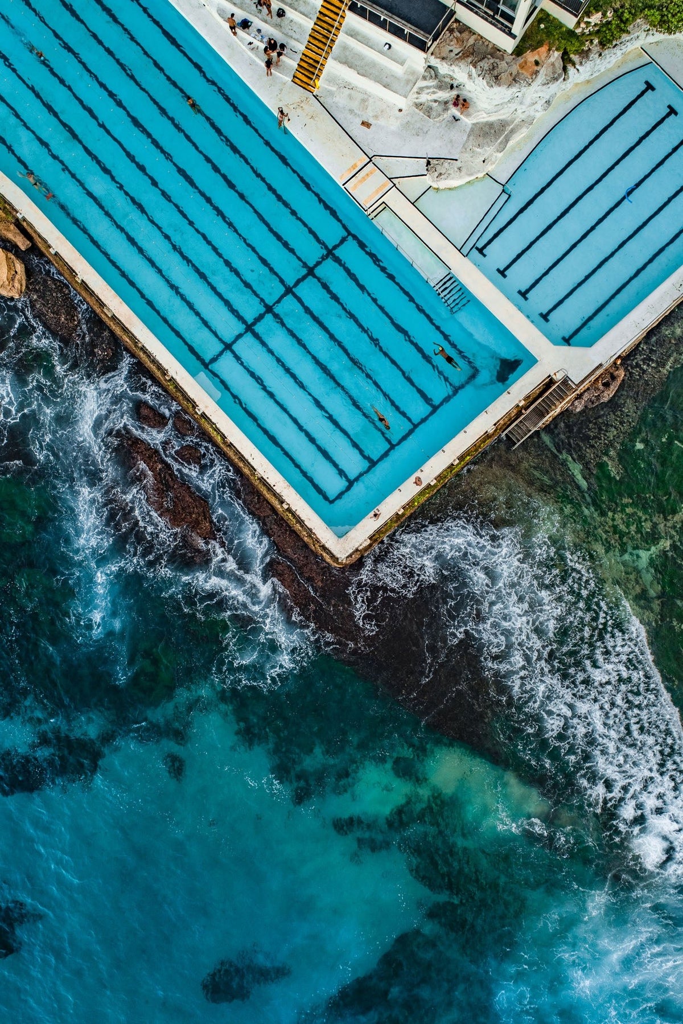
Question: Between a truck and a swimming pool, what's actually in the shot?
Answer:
swimming pool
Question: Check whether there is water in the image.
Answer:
Yes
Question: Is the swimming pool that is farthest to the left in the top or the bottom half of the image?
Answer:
top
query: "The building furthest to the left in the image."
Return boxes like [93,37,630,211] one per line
[449,0,542,55]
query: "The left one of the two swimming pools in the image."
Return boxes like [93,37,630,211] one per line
[0,0,538,538]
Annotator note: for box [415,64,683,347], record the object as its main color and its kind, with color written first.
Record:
blue swimming pool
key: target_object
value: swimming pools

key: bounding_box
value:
[0,0,538,538]
[415,64,683,347]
